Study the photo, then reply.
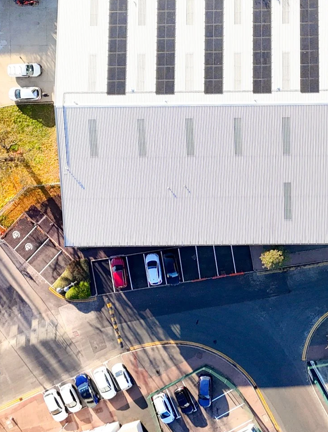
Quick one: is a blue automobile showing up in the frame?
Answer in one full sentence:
Yes, the frame does contain a blue automobile.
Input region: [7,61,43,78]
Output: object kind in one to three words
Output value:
vehicle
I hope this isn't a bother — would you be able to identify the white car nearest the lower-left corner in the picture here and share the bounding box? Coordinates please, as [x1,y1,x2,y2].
[42,387,67,424]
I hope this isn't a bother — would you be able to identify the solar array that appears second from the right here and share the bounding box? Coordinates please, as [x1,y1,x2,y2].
[251,0,272,93]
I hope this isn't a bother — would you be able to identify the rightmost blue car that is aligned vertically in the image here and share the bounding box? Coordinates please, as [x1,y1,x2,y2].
[196,374,213,408]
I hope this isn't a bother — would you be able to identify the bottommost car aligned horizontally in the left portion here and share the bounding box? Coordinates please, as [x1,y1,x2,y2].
[9,86,44,103]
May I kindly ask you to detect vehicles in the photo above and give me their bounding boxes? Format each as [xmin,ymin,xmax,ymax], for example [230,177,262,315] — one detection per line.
[176,384,196,416]
[76,370,99,408]
[11,0,42,8]
[42,387,67,424]
[9,86,44,103]
[110,255,131,293]
[152,391,174,425]
[92,364,117,400]
[7,61,43,78]
[59,380,83,414]
[111,359,134,395]
[144,252,162,287]
[196,374,213,408]
[163,248,182,284]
